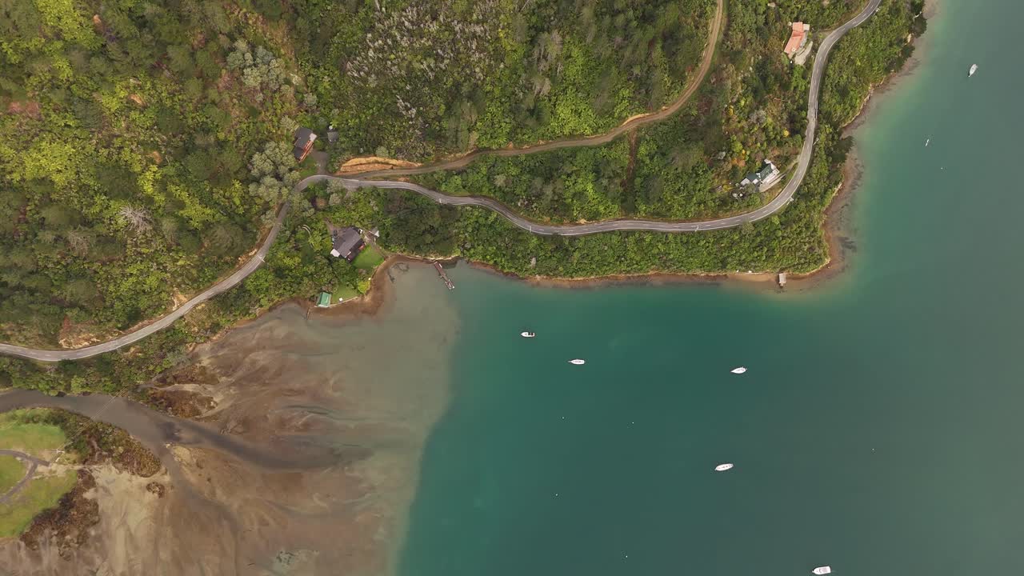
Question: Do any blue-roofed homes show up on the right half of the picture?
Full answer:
No, there's no blue-roofed home to be seen on the right half of the picture.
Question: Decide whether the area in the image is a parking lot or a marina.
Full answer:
This image shows a marina.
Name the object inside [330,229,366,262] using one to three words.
house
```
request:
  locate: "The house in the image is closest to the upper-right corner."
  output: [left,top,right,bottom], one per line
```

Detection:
[784,22,810,59]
